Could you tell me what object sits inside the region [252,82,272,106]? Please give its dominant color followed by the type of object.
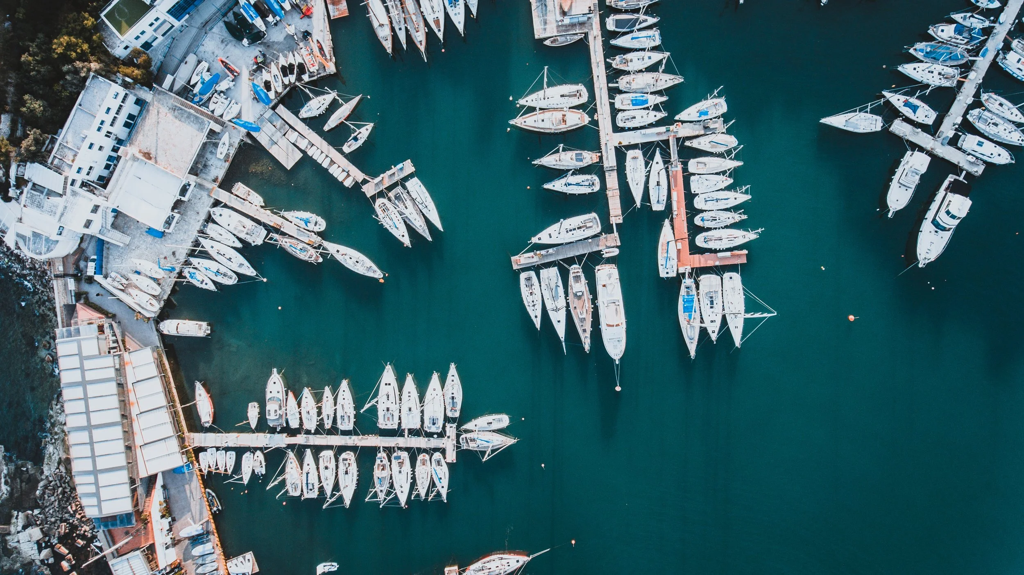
blue boat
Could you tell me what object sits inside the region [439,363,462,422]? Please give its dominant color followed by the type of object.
white boat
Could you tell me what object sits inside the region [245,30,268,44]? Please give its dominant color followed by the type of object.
black boat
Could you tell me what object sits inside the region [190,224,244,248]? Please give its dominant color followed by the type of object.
white boat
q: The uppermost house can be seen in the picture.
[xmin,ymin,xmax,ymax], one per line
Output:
[99,0,185,61]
